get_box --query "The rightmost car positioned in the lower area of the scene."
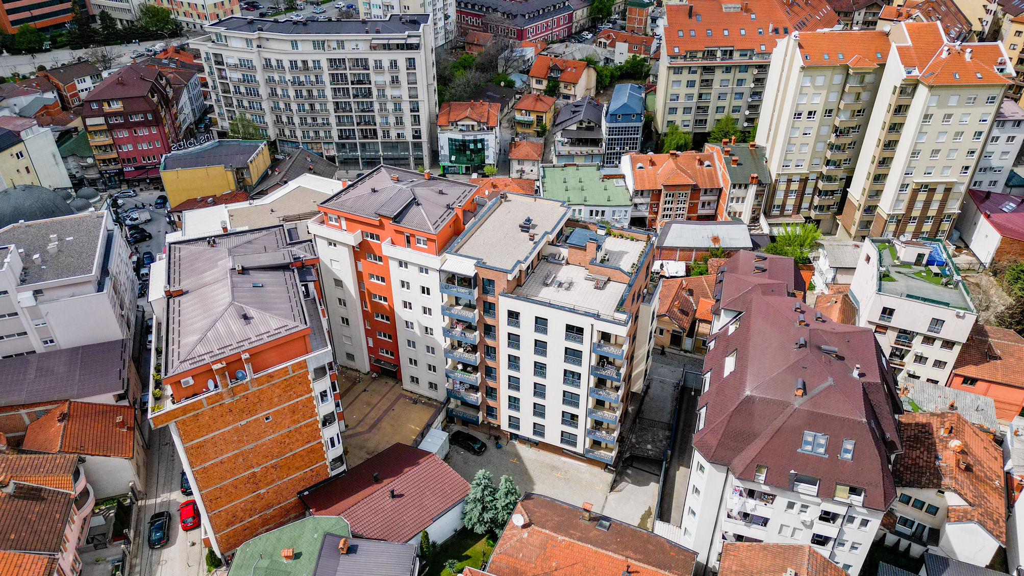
[449,430,487,457]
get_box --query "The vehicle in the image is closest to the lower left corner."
[141,509,173,554]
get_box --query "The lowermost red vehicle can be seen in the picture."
[175,498,200,536]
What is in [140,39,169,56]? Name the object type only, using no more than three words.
vehicle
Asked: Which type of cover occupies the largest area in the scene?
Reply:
buildings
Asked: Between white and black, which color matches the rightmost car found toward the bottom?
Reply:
black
